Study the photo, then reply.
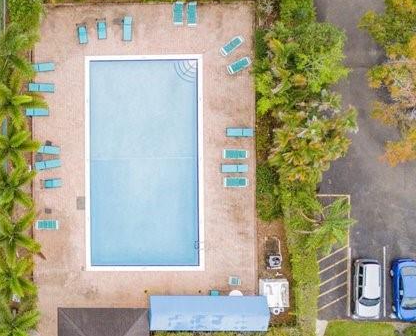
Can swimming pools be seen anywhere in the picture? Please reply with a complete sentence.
Yes, I can see a swimming pool in this picture.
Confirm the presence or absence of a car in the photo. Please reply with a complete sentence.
Yes, a car is visible in the scene.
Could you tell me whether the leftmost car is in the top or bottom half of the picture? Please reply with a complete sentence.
You can find the leftmost car in the bottom half.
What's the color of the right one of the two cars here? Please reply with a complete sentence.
The color of the right one of the two cars is blue.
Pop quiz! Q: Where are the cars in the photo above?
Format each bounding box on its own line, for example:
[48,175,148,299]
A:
[389,259,416,323]
[352,259,386,321]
